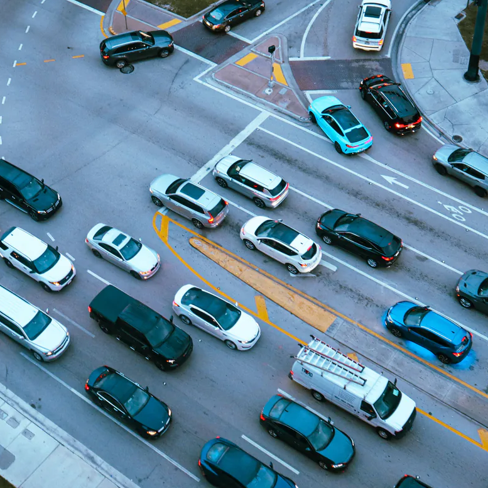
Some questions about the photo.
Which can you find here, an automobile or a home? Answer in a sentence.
The image shows an automobile.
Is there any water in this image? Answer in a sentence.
No, the scene doesn't show any water.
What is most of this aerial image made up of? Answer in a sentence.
For the most part, this view shows paved ground.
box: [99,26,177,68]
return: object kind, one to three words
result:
car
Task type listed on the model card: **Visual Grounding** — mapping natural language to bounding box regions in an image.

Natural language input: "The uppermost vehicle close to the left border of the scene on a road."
[0,159,65,223]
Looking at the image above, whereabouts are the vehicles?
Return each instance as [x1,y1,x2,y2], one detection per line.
[87,285,196,372]
[147,176,230,232]
[196,434,296,488]
[455,269,488,316]
[316,211,409,272]
[385,301,479,367]
[199,0,268,34]
[0,281,72,364]
[81,361,172,438]
[361,73,424,137]
[85,223,164,281]
[239,216,327,277]
[434,145,488,199]
[0,159,65,223]
[295,336,420,442]
[170,285,262,351]
[258,394,356,473]
[0,225,78,294]
[212,156,292,210]
[312,103,371,158]
[99,26,177,68]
